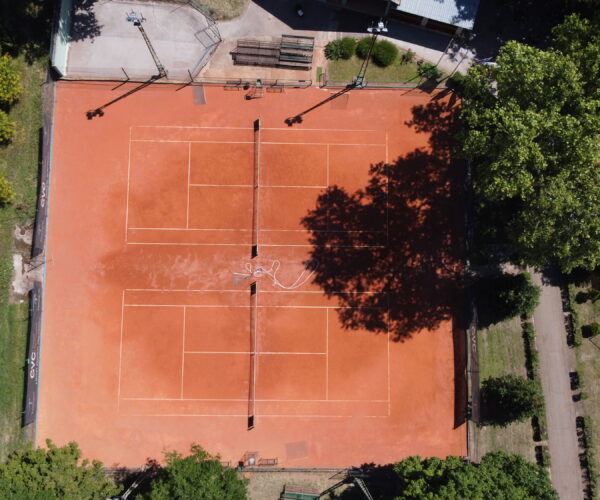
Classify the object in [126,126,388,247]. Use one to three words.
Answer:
tennis court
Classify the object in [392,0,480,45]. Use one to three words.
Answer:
building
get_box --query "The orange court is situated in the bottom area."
[118,290,390,417]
